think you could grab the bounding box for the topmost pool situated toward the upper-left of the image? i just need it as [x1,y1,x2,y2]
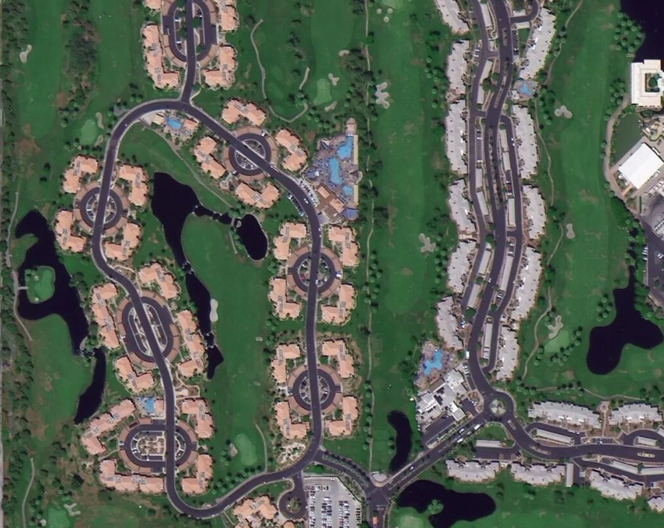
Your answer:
[162,113,197,139]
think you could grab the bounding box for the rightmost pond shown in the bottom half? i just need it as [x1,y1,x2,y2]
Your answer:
[586,265,664,375]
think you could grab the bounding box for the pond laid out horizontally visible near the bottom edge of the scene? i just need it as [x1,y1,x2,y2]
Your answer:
[397,479,496,528]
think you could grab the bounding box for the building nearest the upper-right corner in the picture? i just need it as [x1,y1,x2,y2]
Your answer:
[632,58,664,107]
